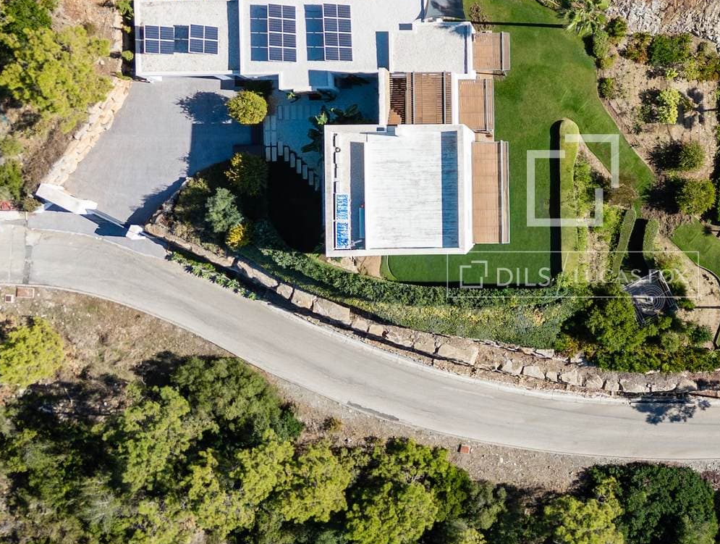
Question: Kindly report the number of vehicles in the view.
zero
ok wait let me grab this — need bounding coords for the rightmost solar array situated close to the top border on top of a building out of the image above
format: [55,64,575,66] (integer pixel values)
[324,3,352,63]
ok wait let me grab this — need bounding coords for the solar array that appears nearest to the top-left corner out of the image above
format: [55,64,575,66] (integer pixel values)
[145,26,175,57]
